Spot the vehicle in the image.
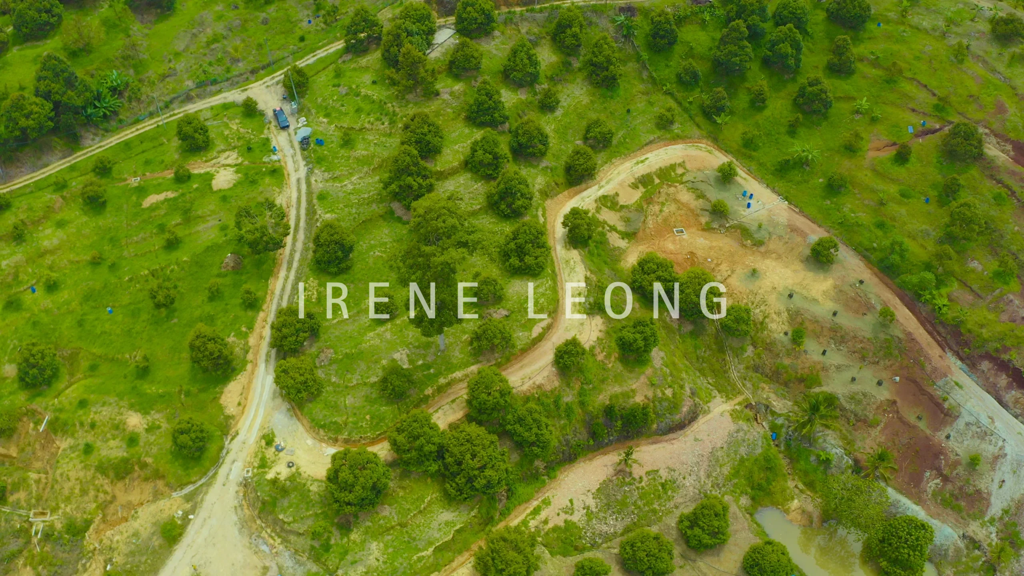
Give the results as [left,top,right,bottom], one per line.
[271,105,289,128]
